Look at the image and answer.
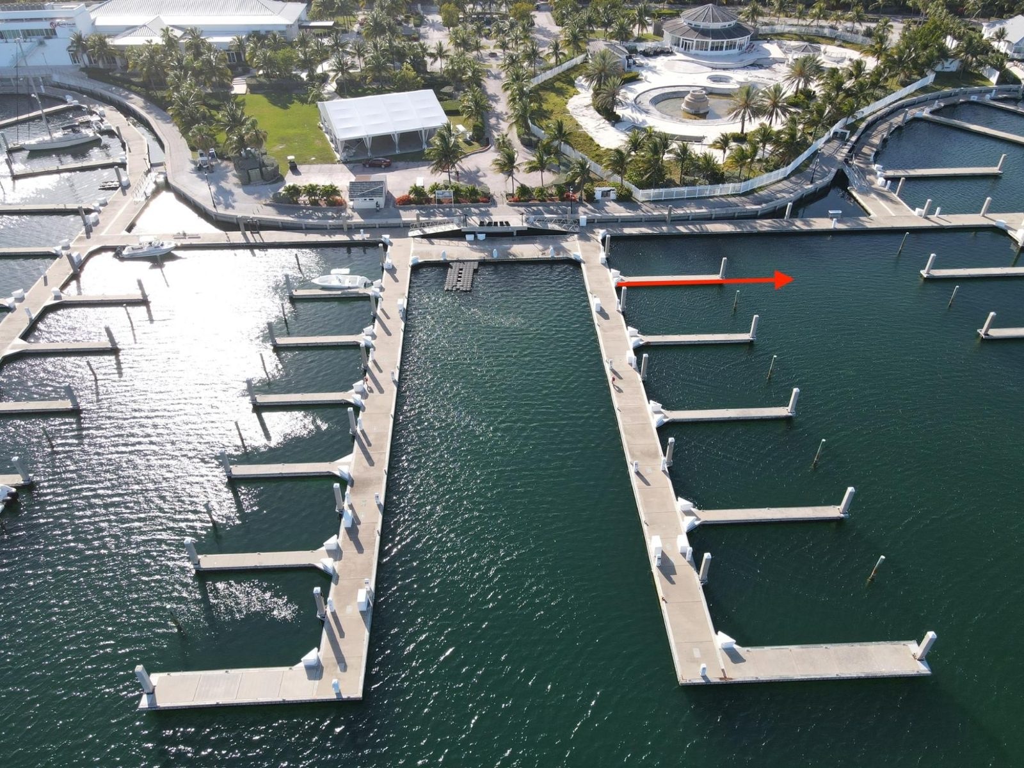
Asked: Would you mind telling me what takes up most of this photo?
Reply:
water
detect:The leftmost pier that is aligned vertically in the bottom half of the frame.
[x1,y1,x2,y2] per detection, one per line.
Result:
[314,239,409,704]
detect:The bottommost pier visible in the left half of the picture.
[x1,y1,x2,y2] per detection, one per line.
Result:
[139,644,322,712]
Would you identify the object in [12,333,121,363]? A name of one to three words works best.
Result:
pier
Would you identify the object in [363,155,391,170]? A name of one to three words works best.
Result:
car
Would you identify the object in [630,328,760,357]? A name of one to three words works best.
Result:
pier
